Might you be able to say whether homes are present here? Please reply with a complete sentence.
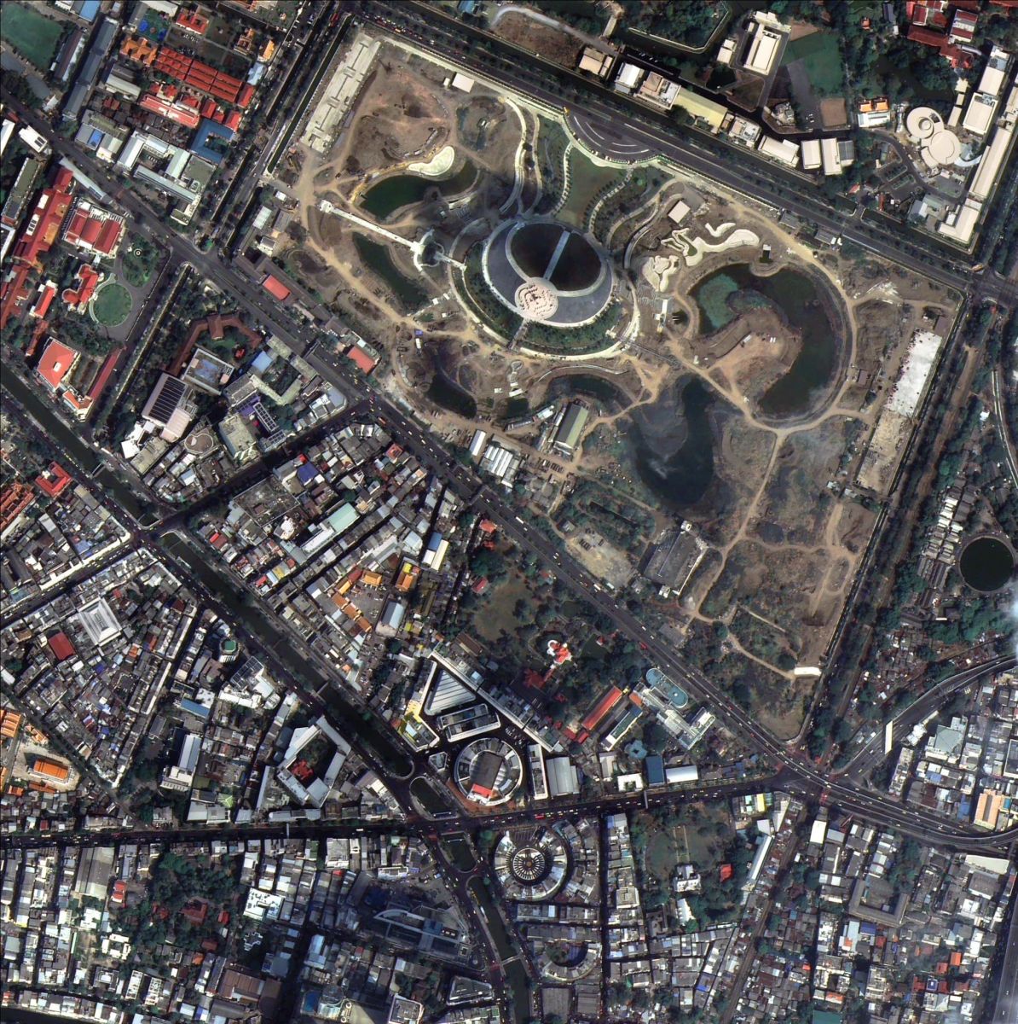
Yes, the photo shows a home.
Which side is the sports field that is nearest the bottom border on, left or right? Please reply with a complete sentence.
The sports field that is nearest the bottom border is on the right side of the image.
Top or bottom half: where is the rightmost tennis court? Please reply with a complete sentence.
The top half of the photo is where the rightmost tennis court is.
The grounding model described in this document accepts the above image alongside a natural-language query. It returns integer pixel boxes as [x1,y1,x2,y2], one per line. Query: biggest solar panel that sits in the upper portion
[151,378,186,419]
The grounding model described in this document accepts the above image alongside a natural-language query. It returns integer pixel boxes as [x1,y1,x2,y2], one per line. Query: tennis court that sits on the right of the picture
[822,98,847,127]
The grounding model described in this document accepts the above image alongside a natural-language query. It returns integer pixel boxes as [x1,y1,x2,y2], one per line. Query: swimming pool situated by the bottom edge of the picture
[303,990,320,1014]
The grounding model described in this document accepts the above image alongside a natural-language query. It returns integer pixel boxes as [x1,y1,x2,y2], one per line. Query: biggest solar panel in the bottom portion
[234,660,260,688]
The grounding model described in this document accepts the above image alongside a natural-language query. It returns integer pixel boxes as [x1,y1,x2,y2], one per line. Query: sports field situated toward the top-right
[786,30,845,92]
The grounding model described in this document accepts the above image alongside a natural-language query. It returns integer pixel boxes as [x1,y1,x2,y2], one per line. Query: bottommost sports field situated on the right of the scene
[644,823,721,875]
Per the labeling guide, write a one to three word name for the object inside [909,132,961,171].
building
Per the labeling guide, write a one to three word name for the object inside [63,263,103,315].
house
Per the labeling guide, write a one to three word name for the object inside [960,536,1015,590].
pond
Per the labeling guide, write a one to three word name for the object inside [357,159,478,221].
pond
